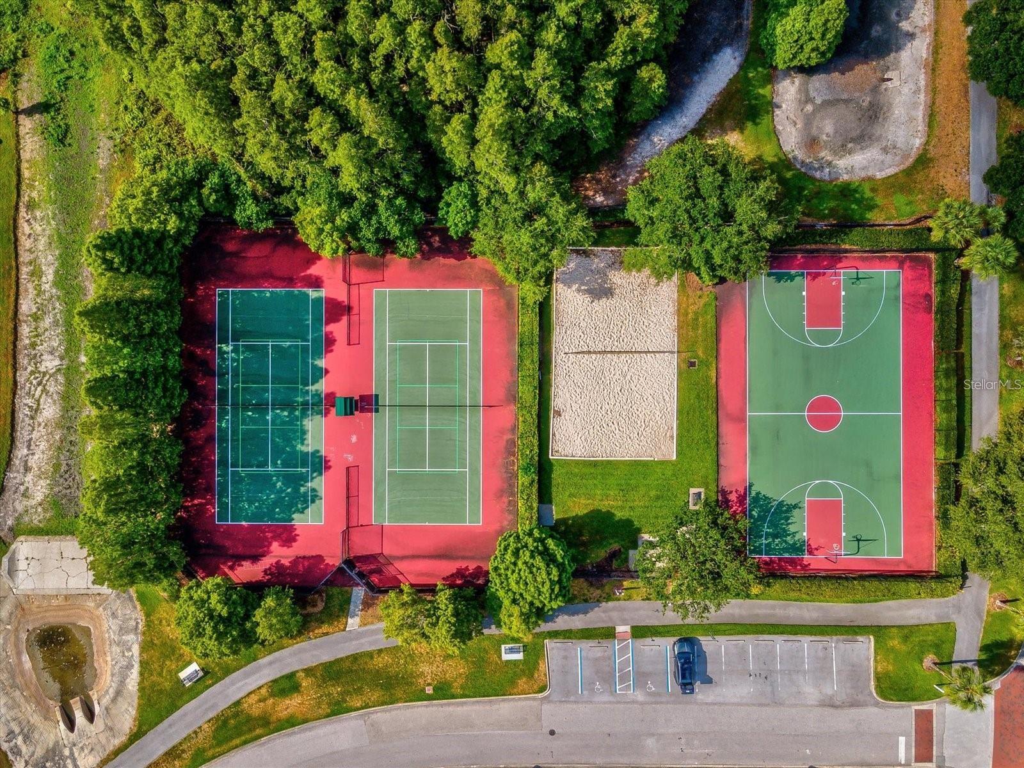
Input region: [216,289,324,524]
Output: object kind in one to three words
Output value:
tennis court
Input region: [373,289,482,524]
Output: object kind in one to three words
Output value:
tennis court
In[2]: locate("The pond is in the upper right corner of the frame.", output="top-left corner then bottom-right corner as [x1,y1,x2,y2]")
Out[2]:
[773,0,933,180]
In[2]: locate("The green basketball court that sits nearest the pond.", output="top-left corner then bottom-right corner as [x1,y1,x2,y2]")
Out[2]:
[715,255,936,574]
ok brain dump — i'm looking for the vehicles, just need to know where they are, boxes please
[672,637,695,697]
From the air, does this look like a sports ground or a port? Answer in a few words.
sports ground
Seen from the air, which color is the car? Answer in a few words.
blue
